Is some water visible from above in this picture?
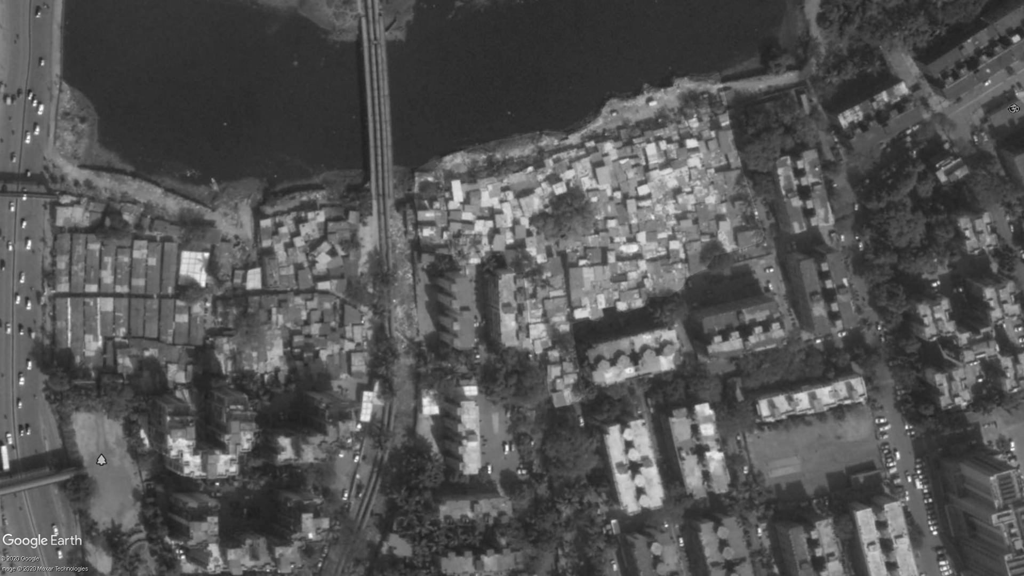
Yes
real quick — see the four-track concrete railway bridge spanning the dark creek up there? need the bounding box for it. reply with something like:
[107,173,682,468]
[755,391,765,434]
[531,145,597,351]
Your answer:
[361,0,394,277]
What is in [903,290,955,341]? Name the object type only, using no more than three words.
building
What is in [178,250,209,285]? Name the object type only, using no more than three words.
shed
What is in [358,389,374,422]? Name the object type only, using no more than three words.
shed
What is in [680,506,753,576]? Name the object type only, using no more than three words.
building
